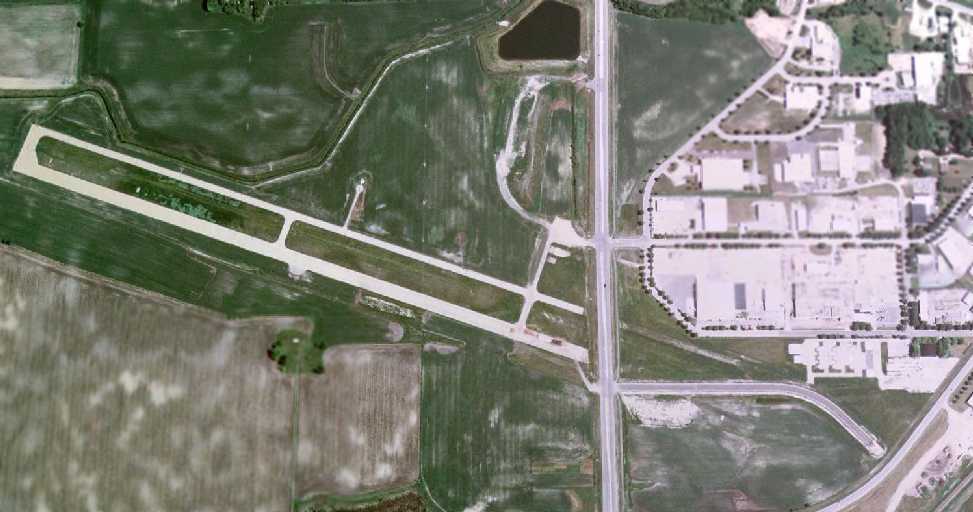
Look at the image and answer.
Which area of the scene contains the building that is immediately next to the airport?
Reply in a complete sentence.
The building that is immediately next to the airport sits in the right section of the image.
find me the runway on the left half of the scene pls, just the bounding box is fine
[14,164,588,361]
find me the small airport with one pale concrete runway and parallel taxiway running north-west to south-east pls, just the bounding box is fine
[13,123,596,361]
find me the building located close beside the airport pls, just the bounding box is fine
[654,251,764,321]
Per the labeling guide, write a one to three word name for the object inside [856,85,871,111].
building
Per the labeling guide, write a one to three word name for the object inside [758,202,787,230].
building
